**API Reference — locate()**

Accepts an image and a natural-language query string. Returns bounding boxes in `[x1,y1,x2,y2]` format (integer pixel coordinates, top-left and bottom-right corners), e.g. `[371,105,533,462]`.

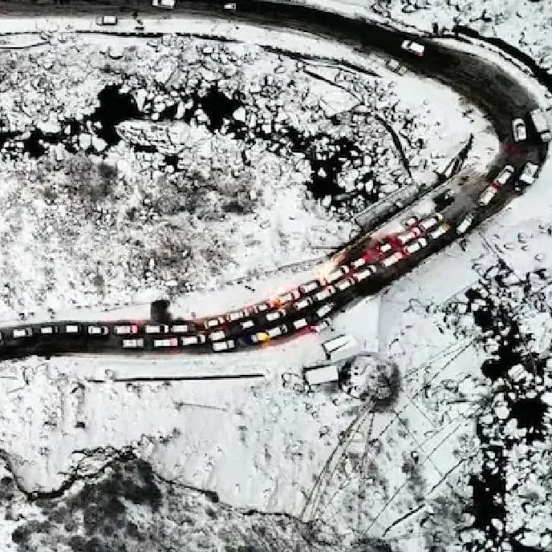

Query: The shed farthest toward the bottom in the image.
[303,365,339,384]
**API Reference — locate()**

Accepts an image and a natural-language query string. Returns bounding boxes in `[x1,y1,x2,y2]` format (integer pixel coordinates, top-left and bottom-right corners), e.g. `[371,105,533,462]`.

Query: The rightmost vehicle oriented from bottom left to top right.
[513,166,537,191]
